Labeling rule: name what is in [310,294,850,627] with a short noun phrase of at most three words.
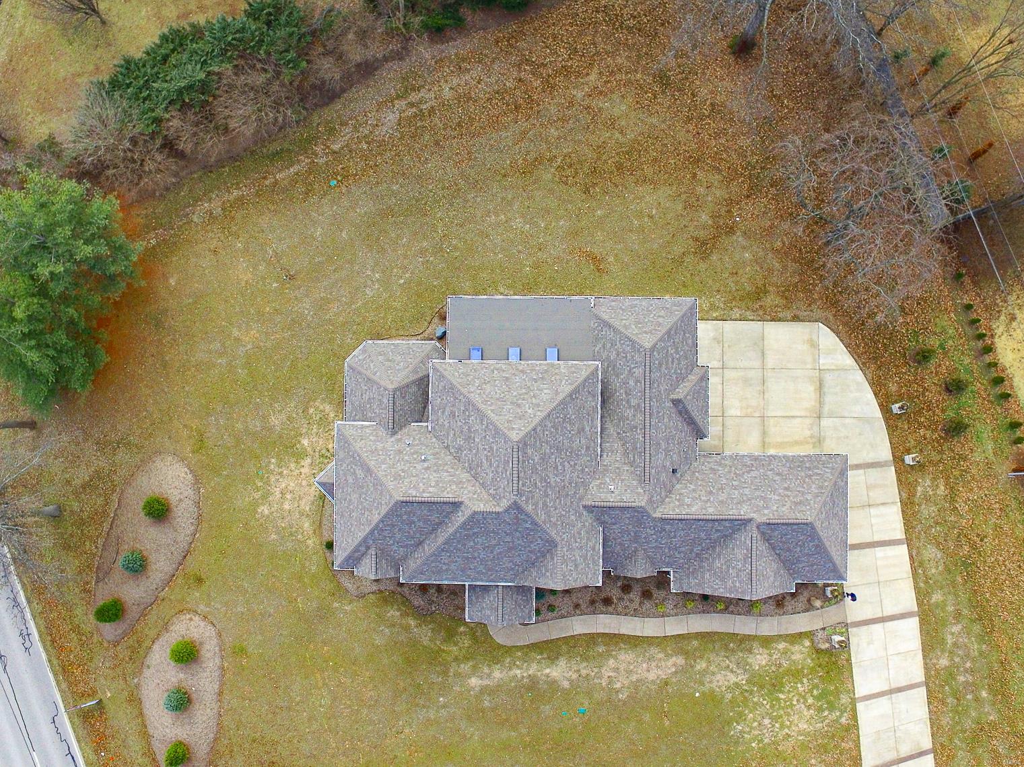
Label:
house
